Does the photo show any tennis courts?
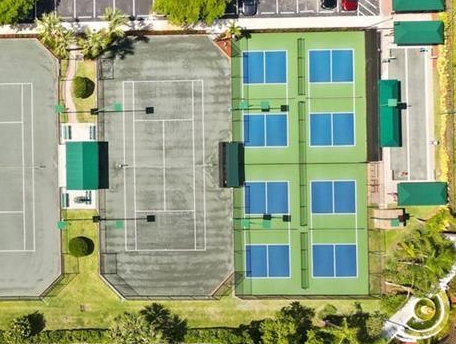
Yes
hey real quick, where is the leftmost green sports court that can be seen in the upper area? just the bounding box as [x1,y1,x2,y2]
[234,30,302,163]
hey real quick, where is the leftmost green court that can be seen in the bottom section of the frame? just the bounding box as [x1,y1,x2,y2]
[234,162,303,296]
